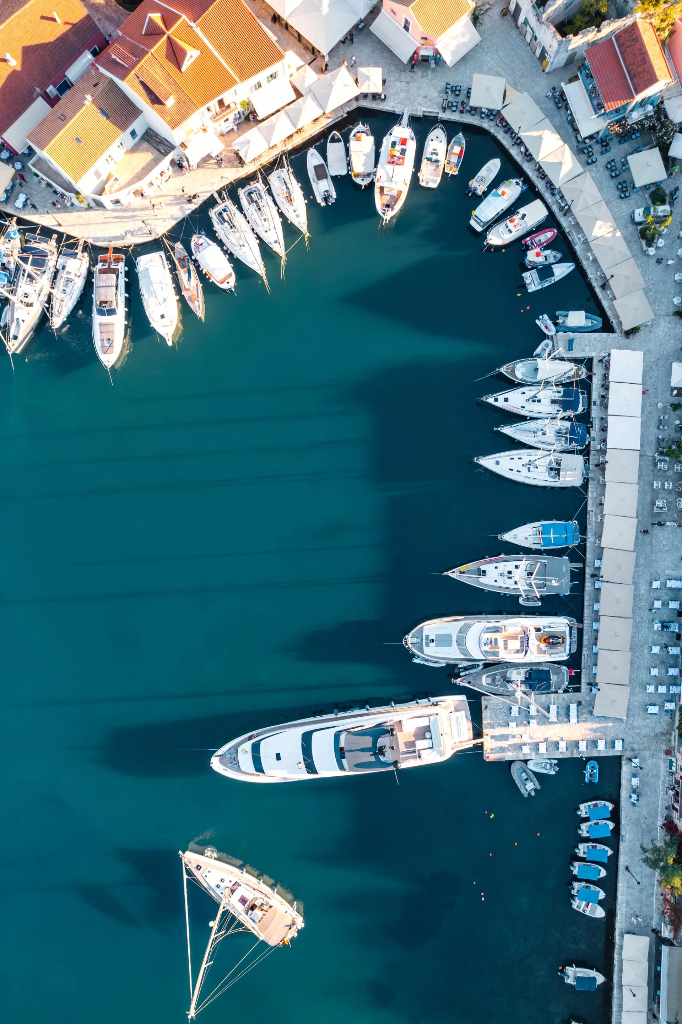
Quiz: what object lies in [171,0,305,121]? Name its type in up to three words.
building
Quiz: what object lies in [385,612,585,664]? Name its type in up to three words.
boat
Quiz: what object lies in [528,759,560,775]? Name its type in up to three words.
boat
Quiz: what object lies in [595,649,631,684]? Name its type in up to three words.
umbrella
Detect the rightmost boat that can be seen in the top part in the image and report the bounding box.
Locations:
[556,310,602,333]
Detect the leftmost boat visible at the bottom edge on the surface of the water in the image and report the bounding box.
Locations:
[179,848,302,1018]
